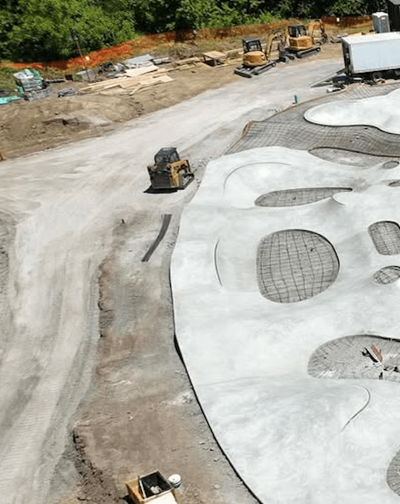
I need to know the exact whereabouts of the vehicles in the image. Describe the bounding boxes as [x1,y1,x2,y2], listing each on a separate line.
[144,144,192,194]
[314,30,400,85]
[232,28,280,79]
[282,7,329,58]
